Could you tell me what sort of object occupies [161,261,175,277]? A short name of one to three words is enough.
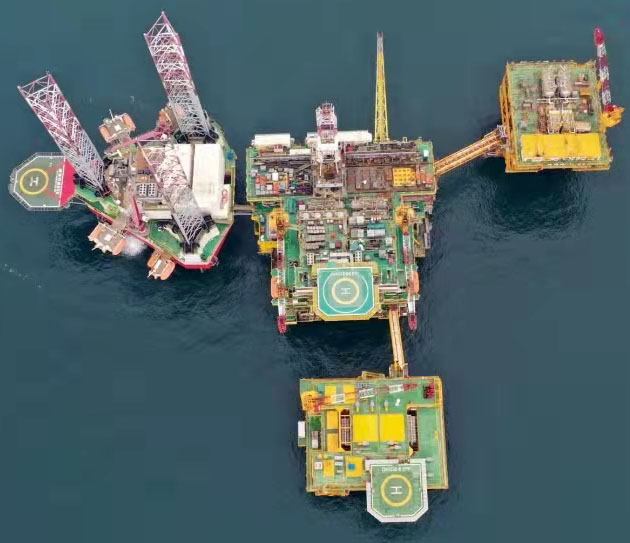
boat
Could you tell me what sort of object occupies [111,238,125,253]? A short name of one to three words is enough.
boat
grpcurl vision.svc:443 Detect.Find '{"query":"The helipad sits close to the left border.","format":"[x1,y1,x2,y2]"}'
[9,151,82,210]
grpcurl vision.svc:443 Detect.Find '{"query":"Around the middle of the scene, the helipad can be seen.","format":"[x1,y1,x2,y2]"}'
[311,263,380,322]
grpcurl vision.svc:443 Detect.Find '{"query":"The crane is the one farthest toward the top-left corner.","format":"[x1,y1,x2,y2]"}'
[102,119,172,159]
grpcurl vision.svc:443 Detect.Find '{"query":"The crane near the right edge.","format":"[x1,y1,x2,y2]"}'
[593,31,620,129]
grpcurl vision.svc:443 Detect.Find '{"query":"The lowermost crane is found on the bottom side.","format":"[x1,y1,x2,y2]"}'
[295,384,418,410]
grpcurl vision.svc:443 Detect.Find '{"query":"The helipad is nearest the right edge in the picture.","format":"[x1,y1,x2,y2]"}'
[365,458,428,523]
